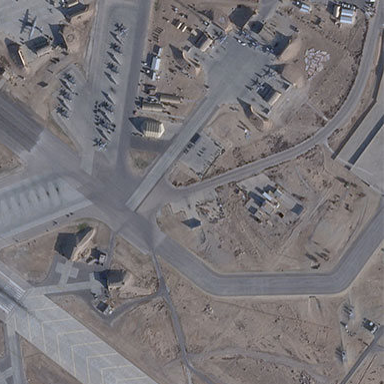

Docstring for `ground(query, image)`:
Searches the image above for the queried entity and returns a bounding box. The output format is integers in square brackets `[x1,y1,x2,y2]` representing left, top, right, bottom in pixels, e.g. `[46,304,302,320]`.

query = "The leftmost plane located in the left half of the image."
[27,16,44,38]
